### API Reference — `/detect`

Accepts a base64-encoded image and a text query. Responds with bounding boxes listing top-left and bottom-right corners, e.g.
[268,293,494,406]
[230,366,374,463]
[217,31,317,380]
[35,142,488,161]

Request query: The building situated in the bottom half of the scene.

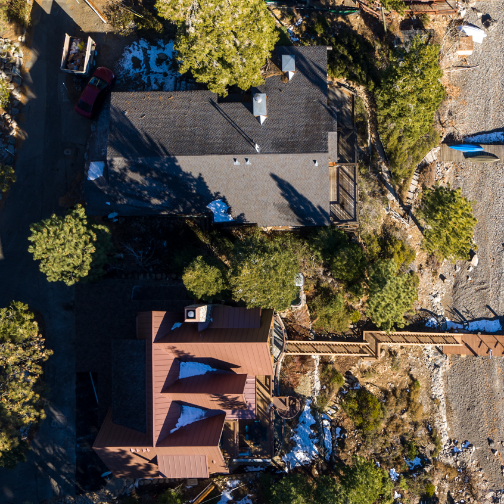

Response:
[94,302,277,479]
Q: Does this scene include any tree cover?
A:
Yes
